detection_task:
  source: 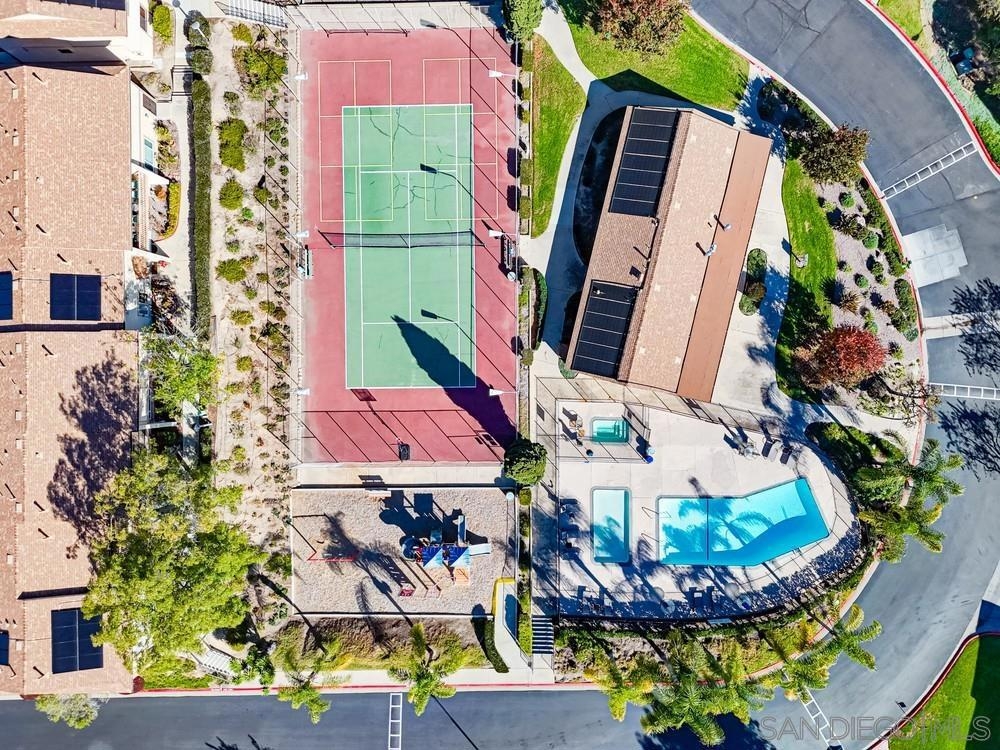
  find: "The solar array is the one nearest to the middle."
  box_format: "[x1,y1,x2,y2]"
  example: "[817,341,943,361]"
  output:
[570,279,637,378]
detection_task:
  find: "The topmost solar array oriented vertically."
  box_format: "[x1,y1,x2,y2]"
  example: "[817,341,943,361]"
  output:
[606,108,677,220]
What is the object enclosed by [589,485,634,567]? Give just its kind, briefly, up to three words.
swimming pool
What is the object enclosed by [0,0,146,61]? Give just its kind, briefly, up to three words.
house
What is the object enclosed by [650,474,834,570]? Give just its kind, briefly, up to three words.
swimming pool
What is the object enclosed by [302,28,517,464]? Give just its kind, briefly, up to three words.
tennis court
